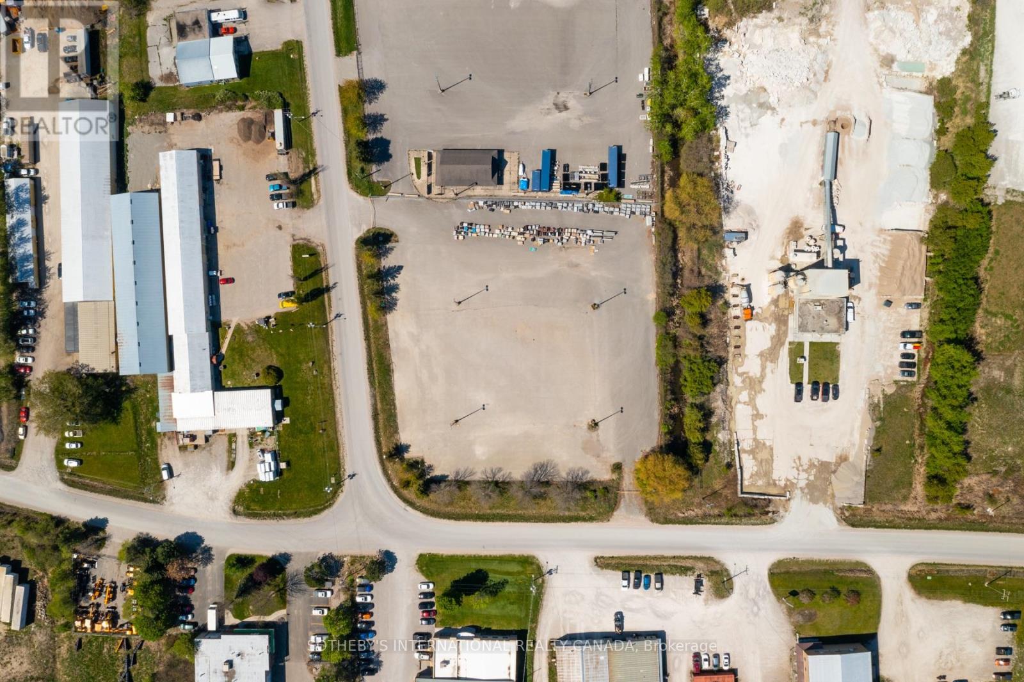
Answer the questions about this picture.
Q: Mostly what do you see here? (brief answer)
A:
paved ground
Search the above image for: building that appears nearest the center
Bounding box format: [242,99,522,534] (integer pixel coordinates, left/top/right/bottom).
[436,150,497,186]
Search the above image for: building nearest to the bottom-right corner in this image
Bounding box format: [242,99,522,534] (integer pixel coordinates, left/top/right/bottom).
[802,644,872,682]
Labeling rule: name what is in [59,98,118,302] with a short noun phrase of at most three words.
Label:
building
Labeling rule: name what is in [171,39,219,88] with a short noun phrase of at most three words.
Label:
building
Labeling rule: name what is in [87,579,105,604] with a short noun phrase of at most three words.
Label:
work vehicle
